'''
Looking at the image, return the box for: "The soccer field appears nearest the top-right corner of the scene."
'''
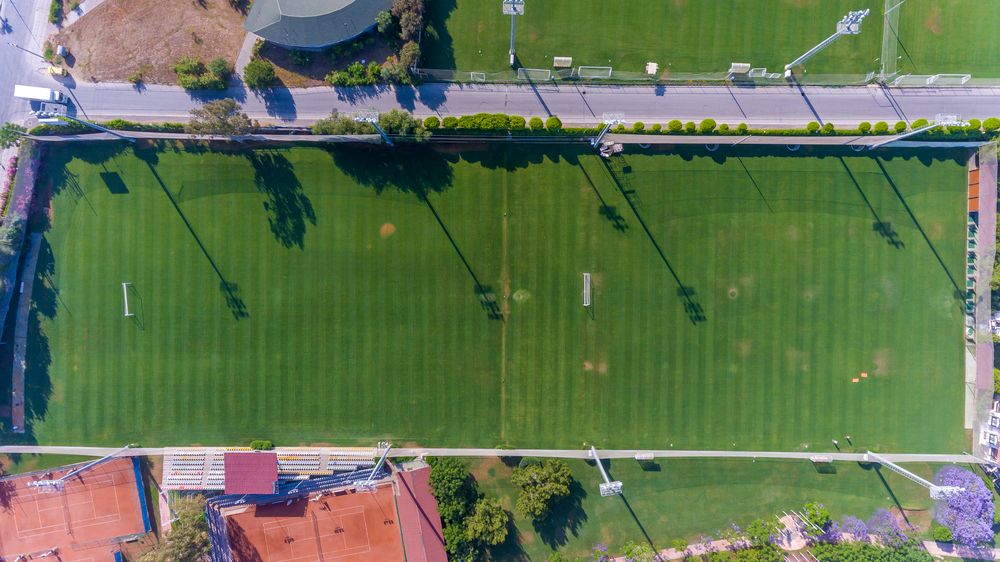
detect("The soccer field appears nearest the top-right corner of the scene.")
[880,0,1000,82]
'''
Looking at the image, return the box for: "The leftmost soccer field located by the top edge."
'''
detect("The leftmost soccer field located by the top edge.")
[421,0,880,82]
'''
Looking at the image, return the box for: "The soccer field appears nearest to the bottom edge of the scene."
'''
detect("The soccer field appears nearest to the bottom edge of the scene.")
[0,147,971,458]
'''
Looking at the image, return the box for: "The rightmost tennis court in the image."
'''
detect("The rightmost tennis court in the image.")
[224,481,407,562]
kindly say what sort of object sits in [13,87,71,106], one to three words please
vehicle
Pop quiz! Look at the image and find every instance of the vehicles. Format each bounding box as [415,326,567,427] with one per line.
[48,65,73,78]
[13,87,71,106]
